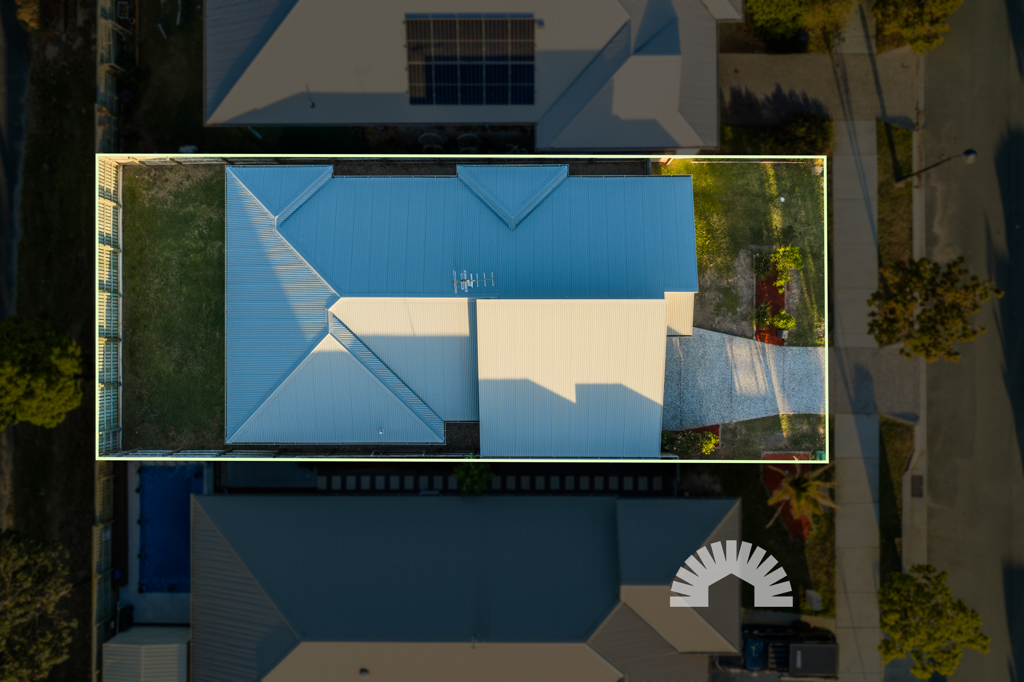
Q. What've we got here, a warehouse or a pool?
pool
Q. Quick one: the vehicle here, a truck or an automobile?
truck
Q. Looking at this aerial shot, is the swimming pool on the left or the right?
left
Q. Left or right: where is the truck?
right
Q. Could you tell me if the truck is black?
Yes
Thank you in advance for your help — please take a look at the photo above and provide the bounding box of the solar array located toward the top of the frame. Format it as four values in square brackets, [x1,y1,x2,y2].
[405,19,541,105]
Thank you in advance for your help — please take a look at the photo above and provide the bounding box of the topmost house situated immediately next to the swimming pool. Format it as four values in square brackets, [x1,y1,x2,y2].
[222,162,700,461]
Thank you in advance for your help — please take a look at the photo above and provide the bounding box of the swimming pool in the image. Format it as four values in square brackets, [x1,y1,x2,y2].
[136,466,202,595]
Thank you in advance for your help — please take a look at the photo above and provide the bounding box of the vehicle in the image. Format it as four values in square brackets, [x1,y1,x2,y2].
[715,623,840,677]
